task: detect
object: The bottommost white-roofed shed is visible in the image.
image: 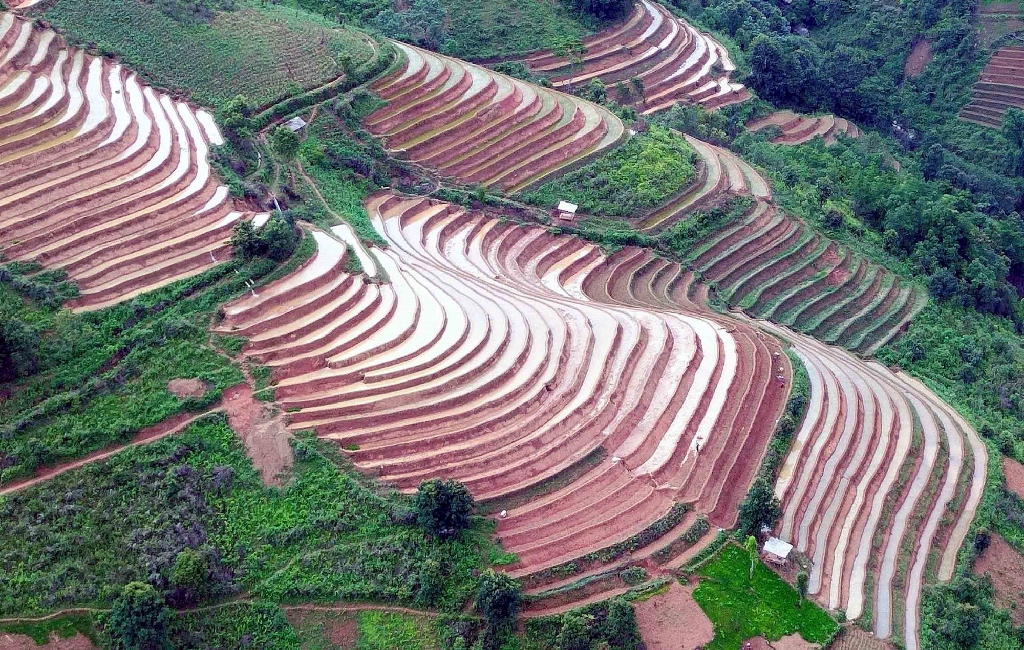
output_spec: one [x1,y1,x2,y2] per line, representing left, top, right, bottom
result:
[764,537,793,566]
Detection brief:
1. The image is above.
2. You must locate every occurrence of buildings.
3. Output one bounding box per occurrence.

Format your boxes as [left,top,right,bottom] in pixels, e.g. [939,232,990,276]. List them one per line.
[557,201,578,224]
[764,537,793,566]
[285,116,308,137]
